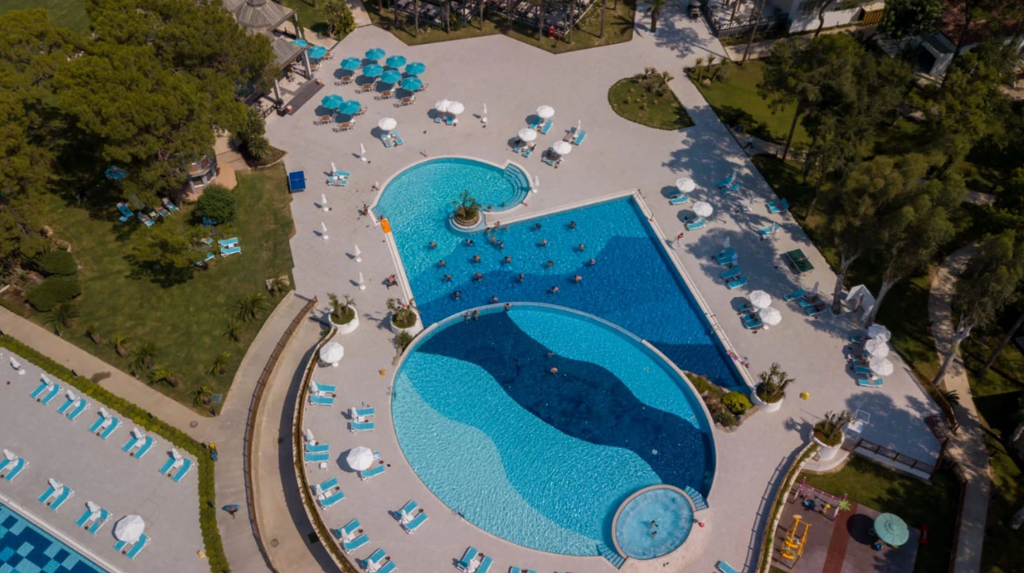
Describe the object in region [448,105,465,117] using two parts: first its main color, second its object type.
white umbrella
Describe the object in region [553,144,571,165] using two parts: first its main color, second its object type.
white umbrella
